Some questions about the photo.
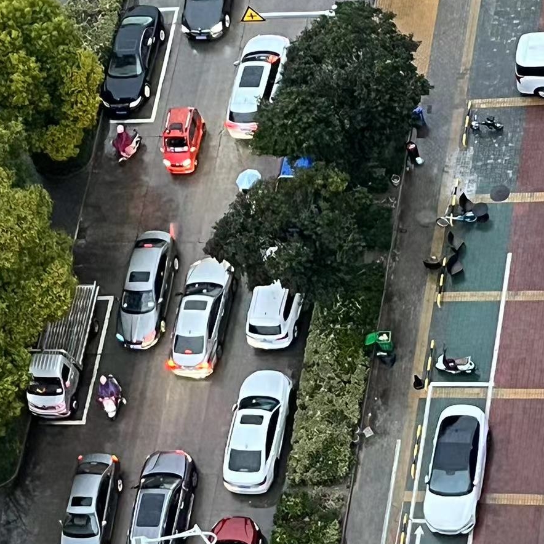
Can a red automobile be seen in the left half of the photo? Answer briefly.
Yes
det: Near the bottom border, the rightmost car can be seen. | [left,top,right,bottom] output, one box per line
[420,410,490,535]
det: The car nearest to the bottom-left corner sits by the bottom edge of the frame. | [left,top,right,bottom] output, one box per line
[54,455,126,544]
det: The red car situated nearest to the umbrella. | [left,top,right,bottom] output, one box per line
[157,100,209,185]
